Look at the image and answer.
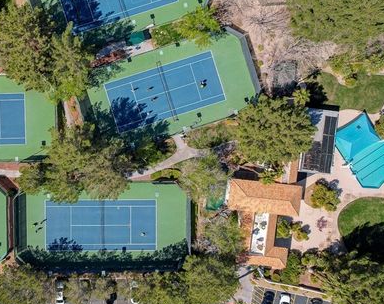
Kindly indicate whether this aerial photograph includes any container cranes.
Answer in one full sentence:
No, no container crane can be seen from above.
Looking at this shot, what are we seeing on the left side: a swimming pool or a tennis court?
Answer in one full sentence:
The feature located on the left side is a tennis court.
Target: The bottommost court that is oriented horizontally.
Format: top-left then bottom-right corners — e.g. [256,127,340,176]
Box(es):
[14,181,190,263]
